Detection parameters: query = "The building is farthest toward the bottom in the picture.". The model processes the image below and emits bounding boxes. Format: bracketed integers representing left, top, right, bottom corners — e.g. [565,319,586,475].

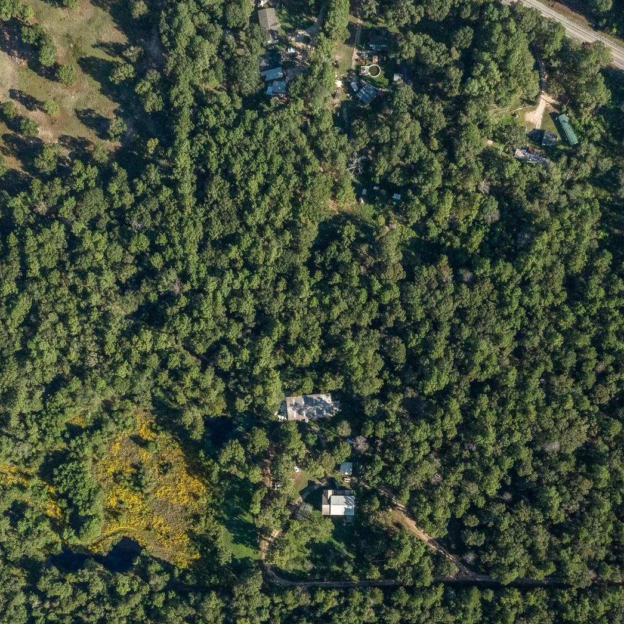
[321,489,354,515]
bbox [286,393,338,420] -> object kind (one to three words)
house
